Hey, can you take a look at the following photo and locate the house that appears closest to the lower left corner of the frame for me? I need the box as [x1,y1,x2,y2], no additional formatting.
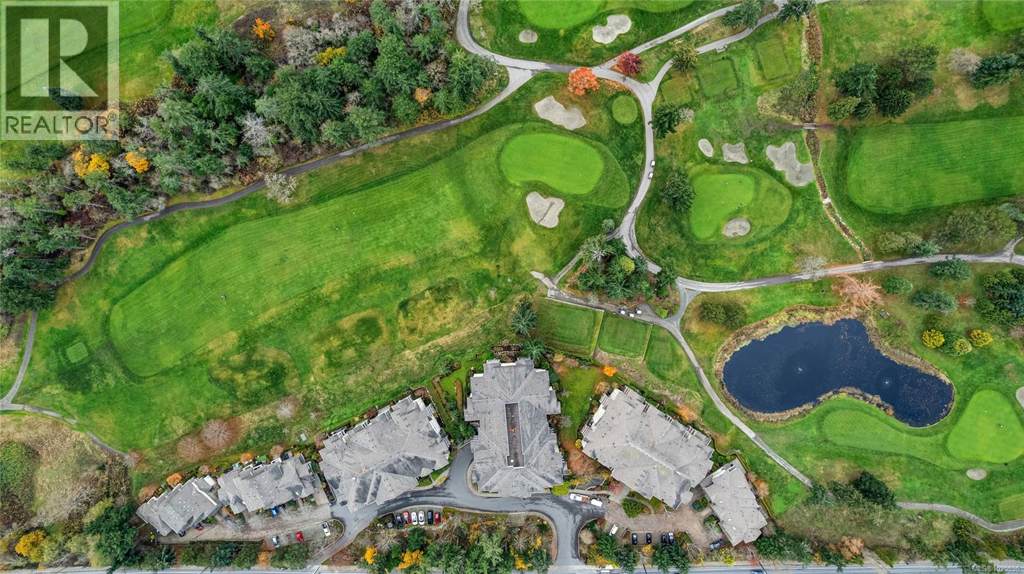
[136,471,224,542]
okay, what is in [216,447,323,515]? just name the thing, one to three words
house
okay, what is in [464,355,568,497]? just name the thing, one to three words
building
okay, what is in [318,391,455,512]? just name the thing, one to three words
building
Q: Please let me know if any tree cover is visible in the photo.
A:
Yes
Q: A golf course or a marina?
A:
golf course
